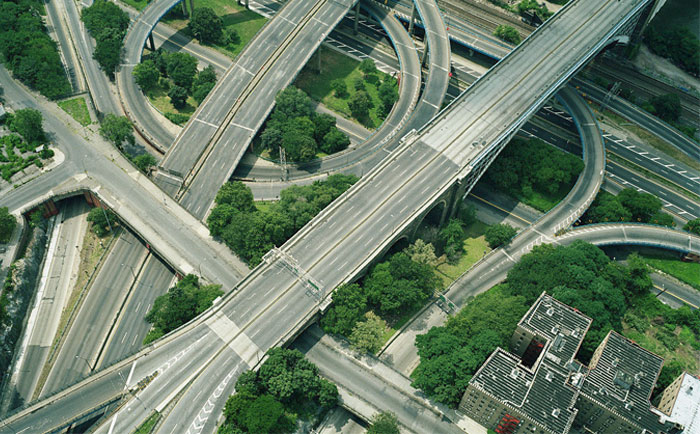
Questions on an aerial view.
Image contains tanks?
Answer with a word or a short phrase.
No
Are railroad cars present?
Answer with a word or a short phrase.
No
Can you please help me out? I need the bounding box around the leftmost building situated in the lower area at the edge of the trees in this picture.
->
[460,290,594,434]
